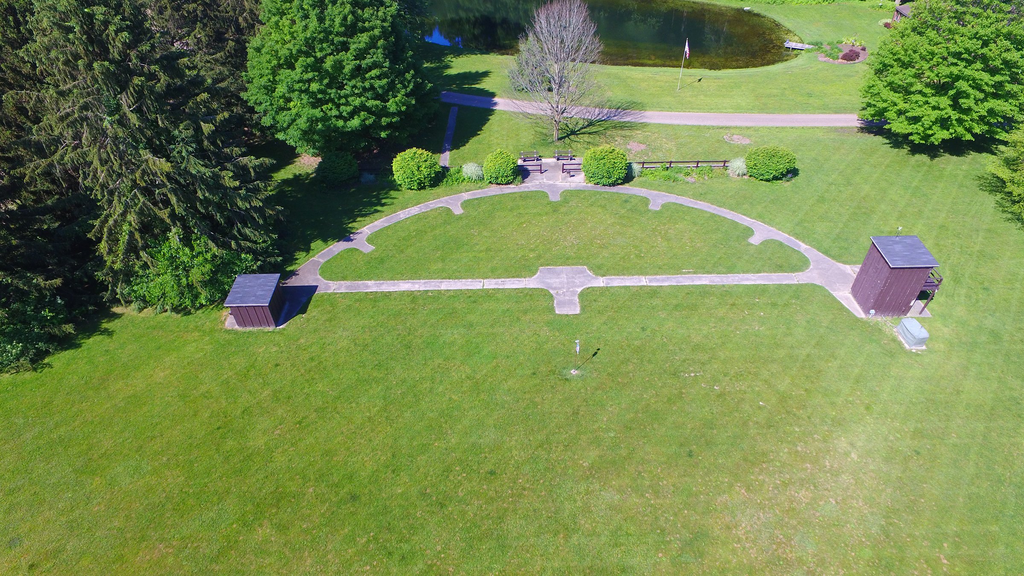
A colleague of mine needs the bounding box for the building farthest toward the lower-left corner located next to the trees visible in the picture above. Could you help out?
[224,275,288,328]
